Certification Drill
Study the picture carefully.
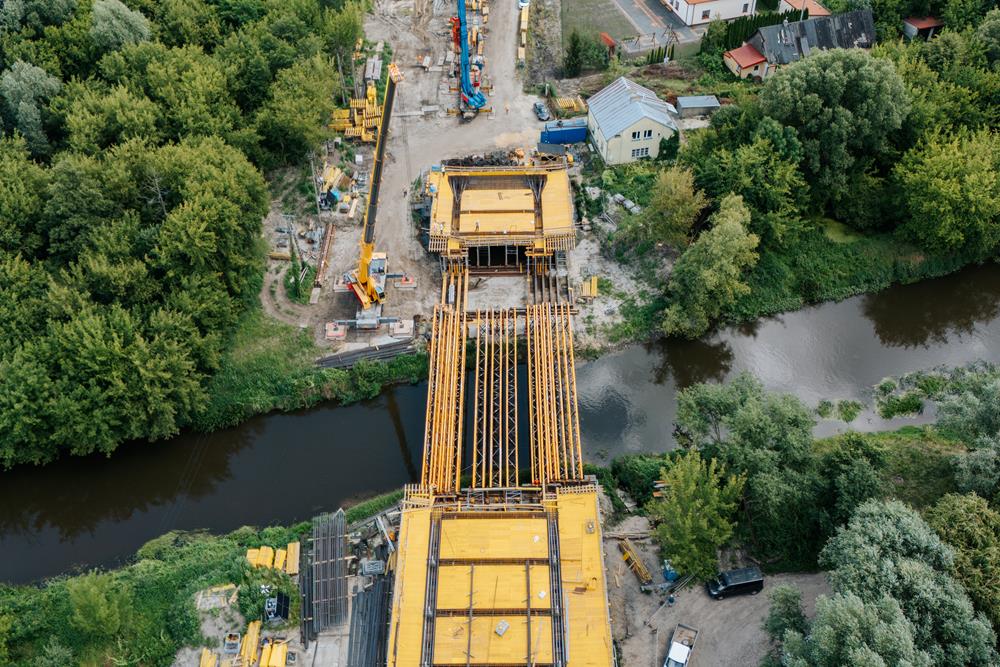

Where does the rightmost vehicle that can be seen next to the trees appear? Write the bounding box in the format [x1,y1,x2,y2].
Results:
[707,562,771,597]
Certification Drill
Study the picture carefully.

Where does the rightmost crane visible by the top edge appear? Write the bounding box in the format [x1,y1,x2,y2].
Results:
[438,0,502,118]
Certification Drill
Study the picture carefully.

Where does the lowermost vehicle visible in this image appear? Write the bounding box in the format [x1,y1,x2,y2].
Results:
[661,617,702,667]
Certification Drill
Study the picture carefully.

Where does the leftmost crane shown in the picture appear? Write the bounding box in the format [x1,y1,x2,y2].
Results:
[322,58,417,338]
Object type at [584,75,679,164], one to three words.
house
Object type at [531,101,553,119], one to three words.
car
